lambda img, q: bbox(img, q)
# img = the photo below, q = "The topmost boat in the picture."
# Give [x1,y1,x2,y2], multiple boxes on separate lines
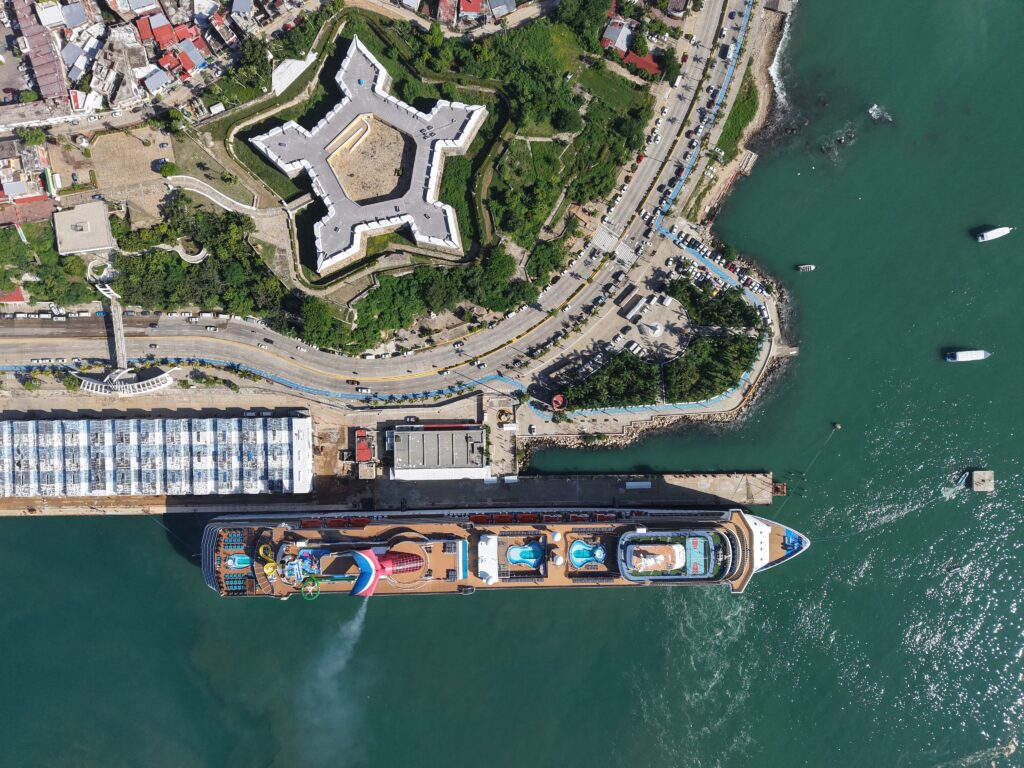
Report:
[976,226,1014,244]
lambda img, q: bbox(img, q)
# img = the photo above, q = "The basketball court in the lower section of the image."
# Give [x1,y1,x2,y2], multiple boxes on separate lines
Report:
[685,536,706,576]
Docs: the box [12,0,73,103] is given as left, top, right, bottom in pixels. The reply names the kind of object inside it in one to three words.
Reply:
house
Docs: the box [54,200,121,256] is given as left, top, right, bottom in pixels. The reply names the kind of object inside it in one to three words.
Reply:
building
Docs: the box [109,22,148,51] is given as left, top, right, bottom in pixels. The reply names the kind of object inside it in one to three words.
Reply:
house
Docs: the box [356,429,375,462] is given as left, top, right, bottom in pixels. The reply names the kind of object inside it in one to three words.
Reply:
shed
